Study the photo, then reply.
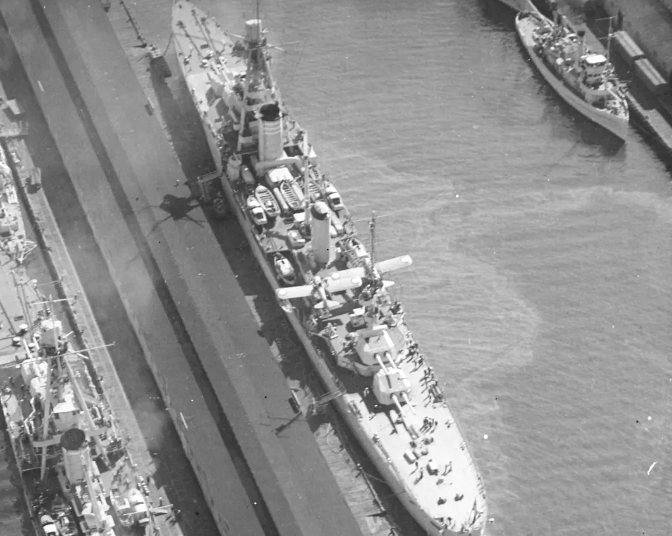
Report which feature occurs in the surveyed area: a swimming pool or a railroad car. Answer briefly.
railroad car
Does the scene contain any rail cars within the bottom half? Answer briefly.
No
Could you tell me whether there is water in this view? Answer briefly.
Yes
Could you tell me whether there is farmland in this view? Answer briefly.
No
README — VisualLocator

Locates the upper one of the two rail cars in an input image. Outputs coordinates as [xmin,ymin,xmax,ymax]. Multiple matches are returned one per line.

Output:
[609,32,644,71]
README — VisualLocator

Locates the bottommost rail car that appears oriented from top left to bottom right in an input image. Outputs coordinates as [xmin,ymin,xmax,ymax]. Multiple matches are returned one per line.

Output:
[633,58,669,100]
